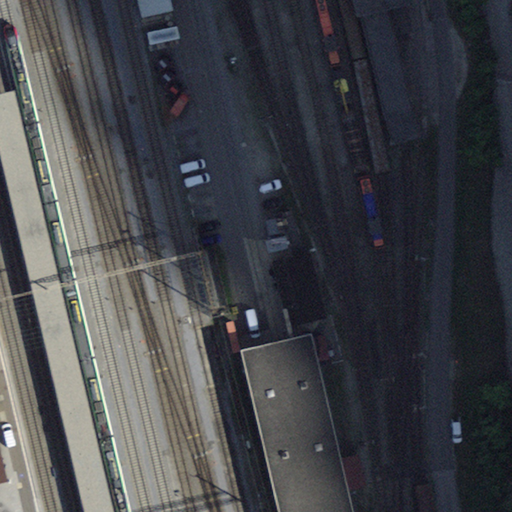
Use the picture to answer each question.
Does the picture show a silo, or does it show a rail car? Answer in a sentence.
The one in the frame is a rail car.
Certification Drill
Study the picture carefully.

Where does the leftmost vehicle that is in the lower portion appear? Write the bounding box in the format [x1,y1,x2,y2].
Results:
[0,422,17,450]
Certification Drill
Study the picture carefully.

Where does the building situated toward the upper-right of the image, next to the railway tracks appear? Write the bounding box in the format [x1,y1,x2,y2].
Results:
[354,0,422,144]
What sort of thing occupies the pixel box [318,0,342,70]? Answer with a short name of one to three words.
rail car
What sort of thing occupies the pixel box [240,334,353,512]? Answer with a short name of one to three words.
building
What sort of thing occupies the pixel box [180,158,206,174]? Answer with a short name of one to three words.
vehicle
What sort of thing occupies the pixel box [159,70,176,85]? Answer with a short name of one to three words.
work vehicle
